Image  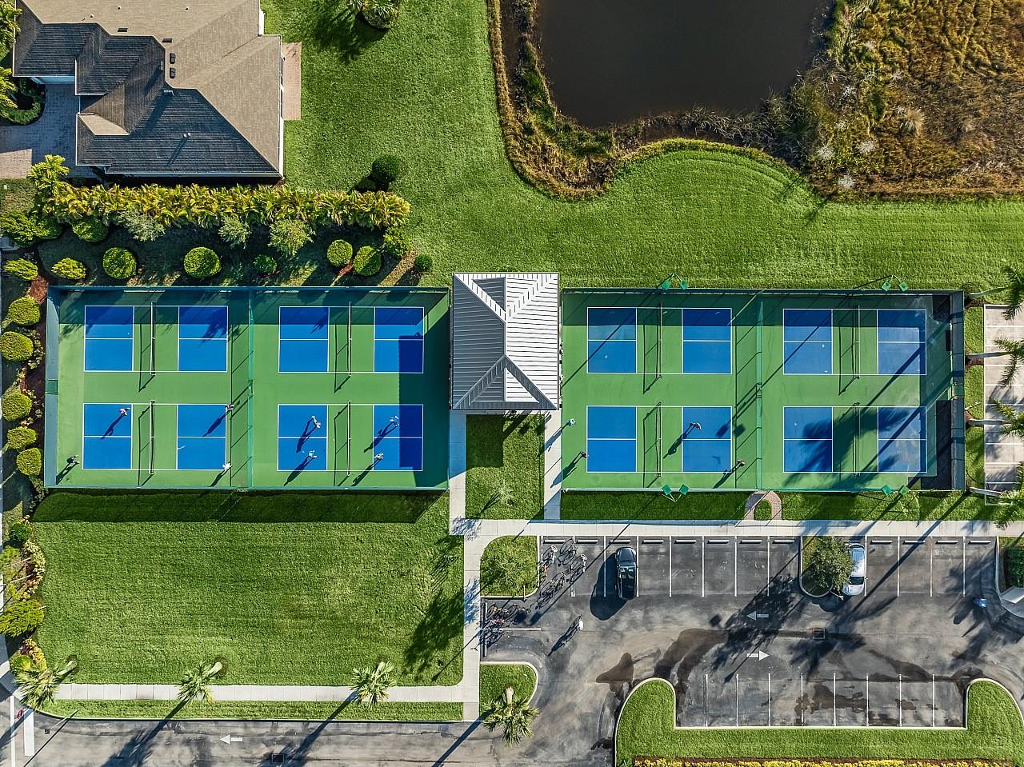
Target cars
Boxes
[614,547,639,599]
[842,543,868,595]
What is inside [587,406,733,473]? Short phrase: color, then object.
blue sports court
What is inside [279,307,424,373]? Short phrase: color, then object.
blue sports court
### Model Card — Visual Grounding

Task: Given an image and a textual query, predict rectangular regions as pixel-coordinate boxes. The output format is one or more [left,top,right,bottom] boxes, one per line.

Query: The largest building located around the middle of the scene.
[452,272,560,411]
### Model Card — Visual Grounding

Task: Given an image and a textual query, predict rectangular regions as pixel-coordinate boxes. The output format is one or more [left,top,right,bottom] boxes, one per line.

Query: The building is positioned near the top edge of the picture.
[12,0,286,176]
